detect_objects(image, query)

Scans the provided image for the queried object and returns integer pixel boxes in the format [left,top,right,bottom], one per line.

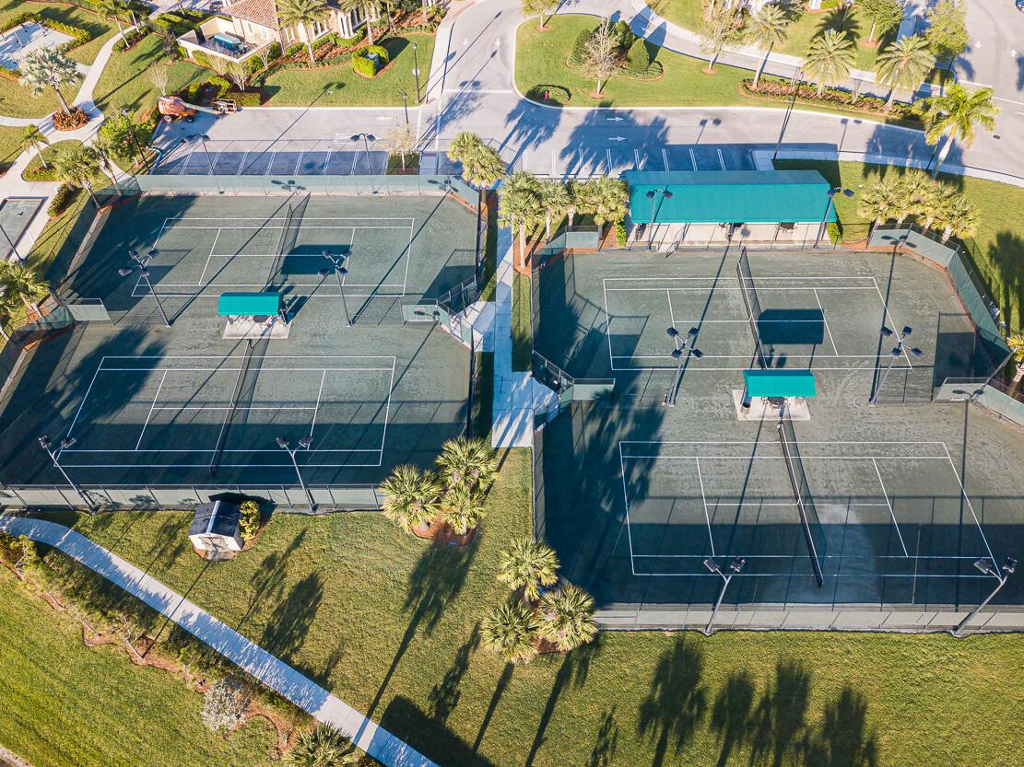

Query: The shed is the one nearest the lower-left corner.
[183,499,245,567]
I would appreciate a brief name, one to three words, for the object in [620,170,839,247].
building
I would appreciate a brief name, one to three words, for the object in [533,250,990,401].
tennis court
